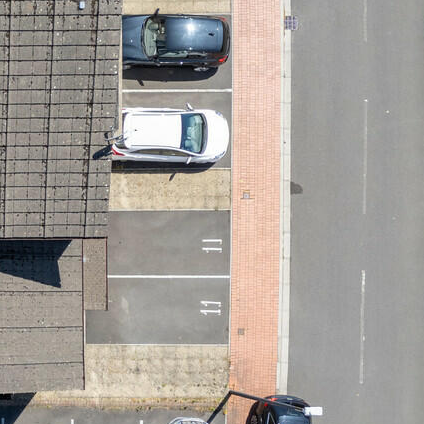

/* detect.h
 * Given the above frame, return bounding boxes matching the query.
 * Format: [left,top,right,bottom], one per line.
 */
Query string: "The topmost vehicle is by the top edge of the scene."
[121,5,231,69]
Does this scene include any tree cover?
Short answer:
No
